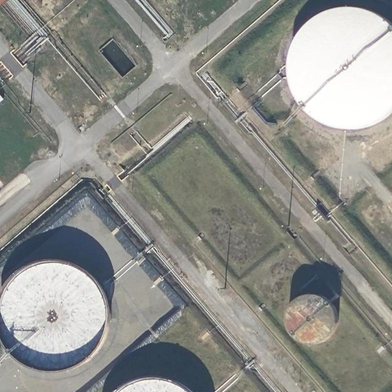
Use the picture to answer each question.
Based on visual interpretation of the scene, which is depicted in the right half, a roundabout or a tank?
tank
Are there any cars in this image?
No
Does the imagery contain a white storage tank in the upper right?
Yes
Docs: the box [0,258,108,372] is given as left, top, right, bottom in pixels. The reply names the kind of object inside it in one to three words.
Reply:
storage tank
